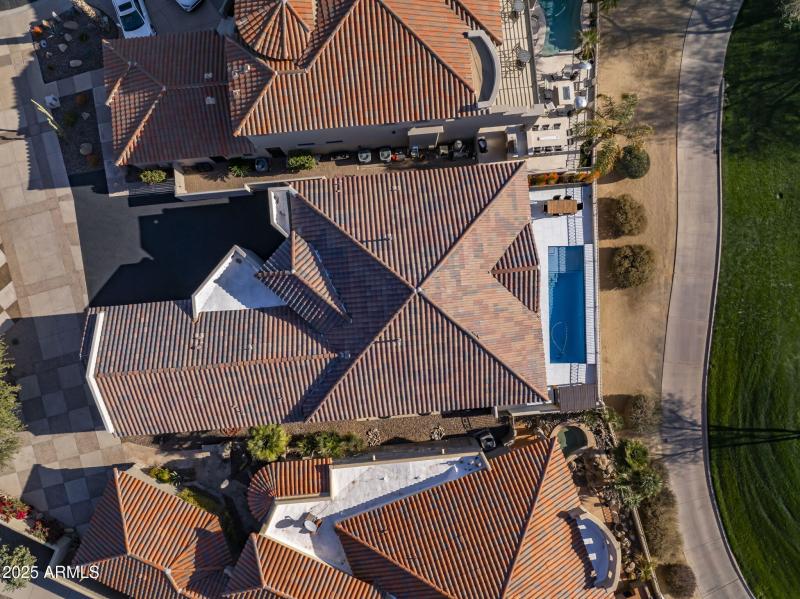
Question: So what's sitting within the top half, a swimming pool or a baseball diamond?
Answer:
swimming pool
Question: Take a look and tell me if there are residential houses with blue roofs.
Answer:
No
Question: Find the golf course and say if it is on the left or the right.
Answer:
right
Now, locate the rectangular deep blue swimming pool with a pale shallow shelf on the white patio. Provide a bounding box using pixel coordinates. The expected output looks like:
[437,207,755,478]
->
[545,245,598,369]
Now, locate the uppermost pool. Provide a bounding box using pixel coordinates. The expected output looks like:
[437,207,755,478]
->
[541,0,585,55]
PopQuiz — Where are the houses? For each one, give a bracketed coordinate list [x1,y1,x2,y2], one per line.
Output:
[99,0,545,169]
[78,161,549,438]
[67,436,617,599]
